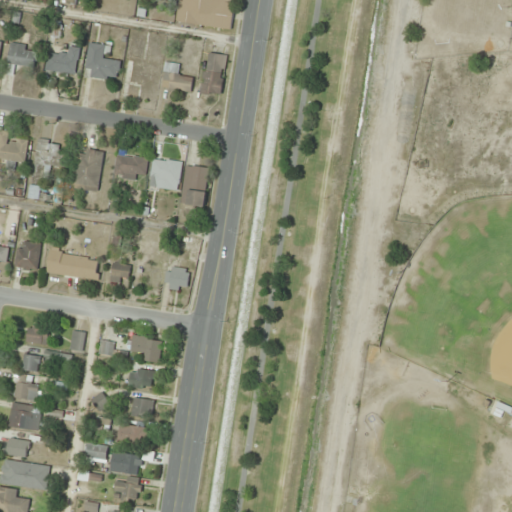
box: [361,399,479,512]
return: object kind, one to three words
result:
sports field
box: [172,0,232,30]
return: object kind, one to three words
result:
building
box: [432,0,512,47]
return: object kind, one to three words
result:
soccer field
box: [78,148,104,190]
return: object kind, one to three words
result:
house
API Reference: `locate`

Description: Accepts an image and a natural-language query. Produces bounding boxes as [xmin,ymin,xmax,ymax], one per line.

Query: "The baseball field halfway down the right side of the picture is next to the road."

[382,195,512,403]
